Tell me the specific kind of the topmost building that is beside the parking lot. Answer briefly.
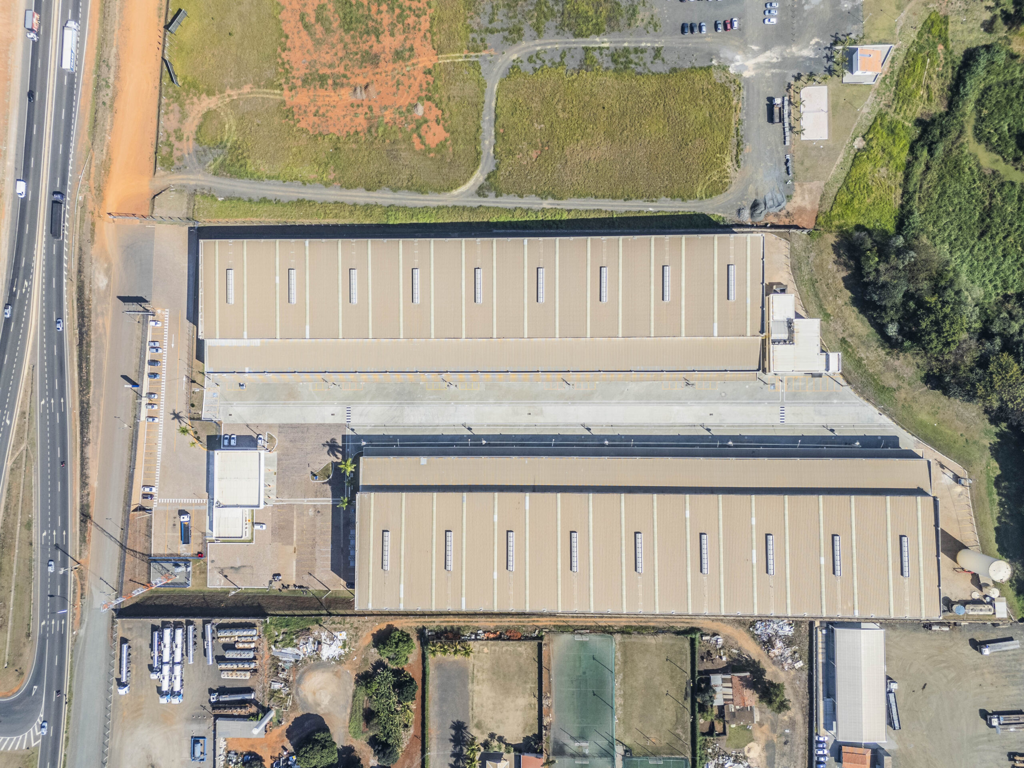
warehouse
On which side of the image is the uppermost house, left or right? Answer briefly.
right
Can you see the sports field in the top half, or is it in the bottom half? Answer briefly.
bottom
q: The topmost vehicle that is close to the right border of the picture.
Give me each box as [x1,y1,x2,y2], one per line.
[976,638,1020,654]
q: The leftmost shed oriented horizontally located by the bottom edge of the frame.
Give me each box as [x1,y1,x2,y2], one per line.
[216,717,267,738]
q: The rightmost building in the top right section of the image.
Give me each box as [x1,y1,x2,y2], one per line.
[852,47,882,78]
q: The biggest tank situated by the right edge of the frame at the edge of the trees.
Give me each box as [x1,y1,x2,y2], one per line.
[956,548,1013,584]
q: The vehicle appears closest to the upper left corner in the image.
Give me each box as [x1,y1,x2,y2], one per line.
[25,11,40,43]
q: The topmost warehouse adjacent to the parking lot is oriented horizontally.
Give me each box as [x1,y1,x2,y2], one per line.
[200,234,766,383]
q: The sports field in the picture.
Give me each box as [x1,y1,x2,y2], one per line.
[551,635,689,768]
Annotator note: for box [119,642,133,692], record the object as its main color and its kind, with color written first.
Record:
white vehicle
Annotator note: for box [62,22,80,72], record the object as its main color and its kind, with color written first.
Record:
white vehicle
